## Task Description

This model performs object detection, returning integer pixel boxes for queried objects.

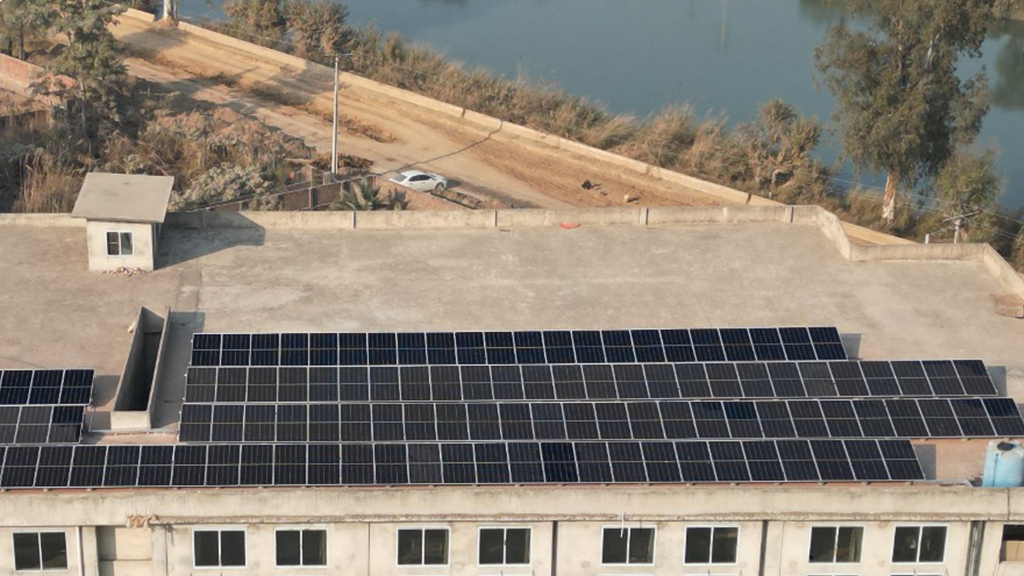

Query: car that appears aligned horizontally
[391,171,449,190]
